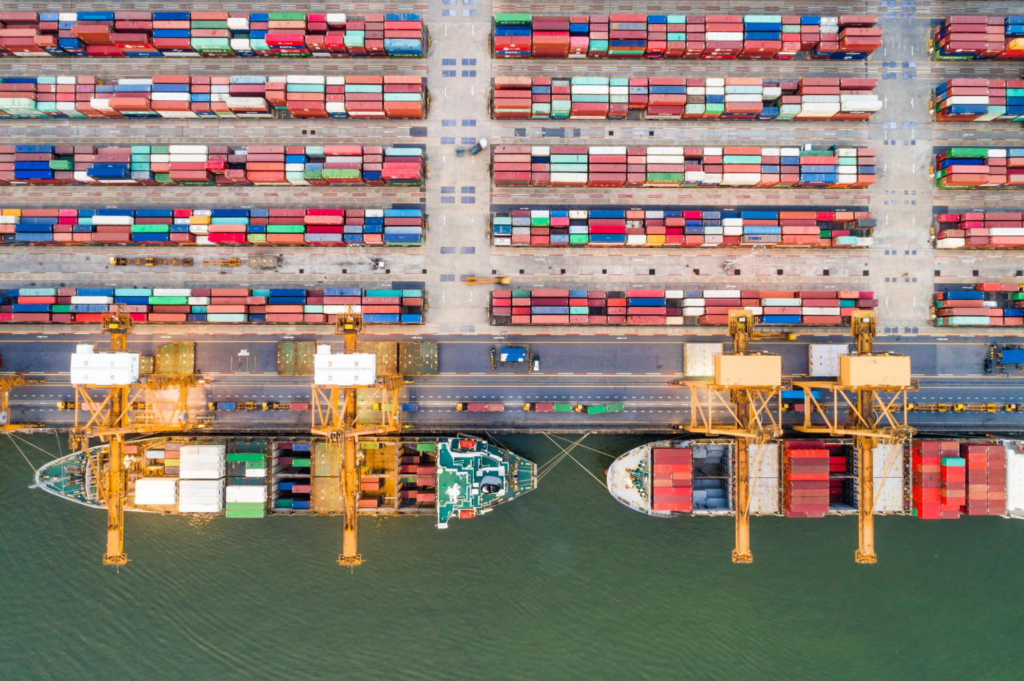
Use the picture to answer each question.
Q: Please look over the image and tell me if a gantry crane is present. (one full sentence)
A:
Yes, the frame does contain a gantry crane.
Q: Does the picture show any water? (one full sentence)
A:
Yes, some water is visible.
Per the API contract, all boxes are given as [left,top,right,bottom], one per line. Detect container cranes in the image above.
[775,312,915,565]
[68,302,214,574]
[669,312,785,565]
[0,373,43,430]
[311,303,414,575]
